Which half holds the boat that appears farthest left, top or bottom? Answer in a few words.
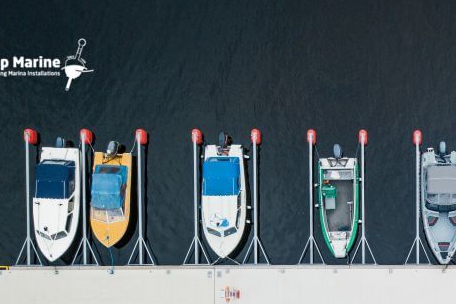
bottom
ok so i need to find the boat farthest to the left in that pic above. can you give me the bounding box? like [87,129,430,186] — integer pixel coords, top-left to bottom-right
[33,137,82,263]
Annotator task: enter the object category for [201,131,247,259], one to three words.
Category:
boat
